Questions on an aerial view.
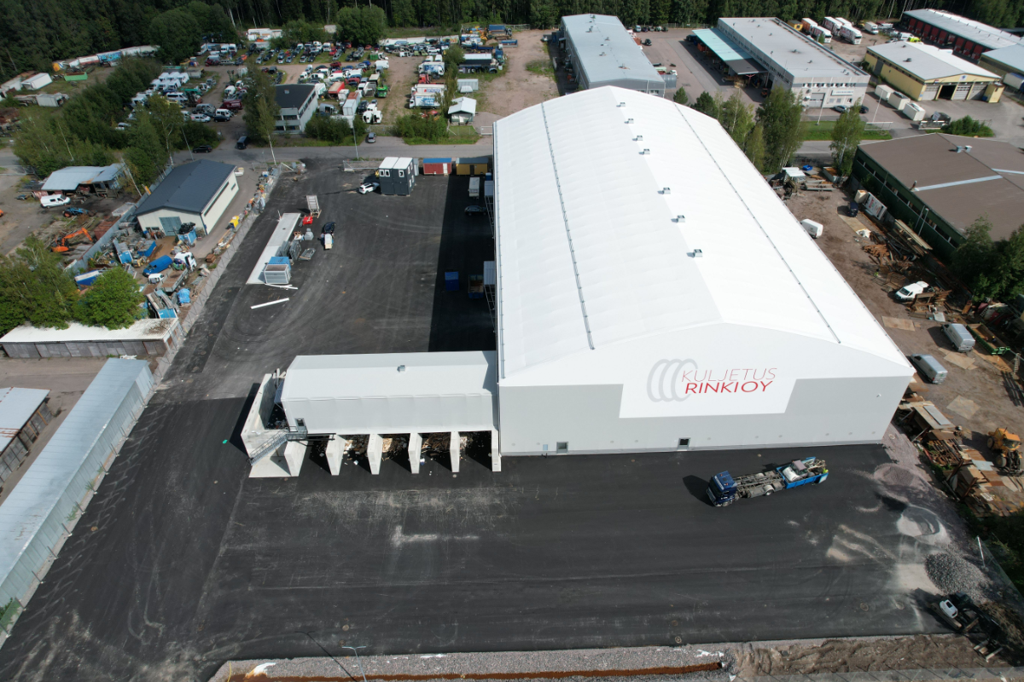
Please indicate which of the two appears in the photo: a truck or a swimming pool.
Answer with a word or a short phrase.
truck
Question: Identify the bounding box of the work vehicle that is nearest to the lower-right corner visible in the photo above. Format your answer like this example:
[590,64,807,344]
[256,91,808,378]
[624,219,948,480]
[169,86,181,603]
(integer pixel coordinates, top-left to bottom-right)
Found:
[932,596,1011,652]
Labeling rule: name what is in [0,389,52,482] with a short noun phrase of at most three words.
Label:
shed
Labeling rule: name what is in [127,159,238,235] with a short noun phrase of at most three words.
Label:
building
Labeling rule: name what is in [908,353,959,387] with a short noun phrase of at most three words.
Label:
van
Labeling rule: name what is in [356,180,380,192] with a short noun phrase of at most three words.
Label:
vehicle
